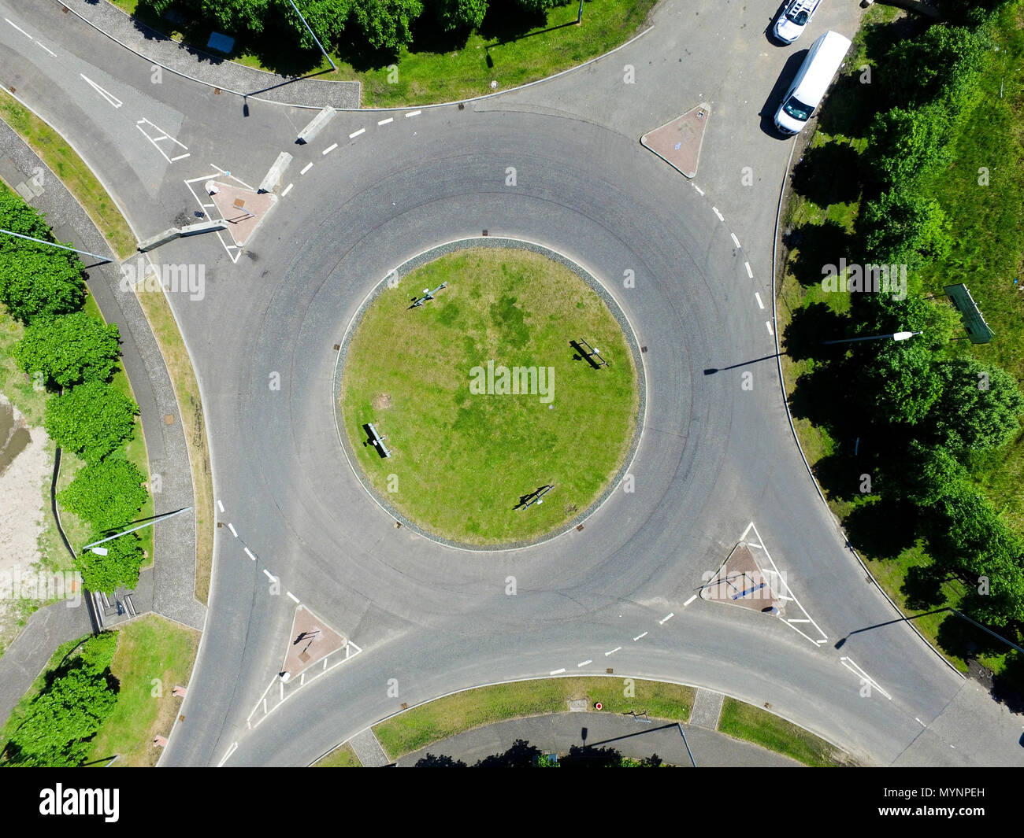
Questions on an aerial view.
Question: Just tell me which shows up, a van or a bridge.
van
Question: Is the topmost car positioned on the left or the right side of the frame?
right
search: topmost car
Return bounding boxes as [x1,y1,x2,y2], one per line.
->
[775,0,825,46]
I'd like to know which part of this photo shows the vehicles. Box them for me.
[775,0,825,46]
[775,33,850,136]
